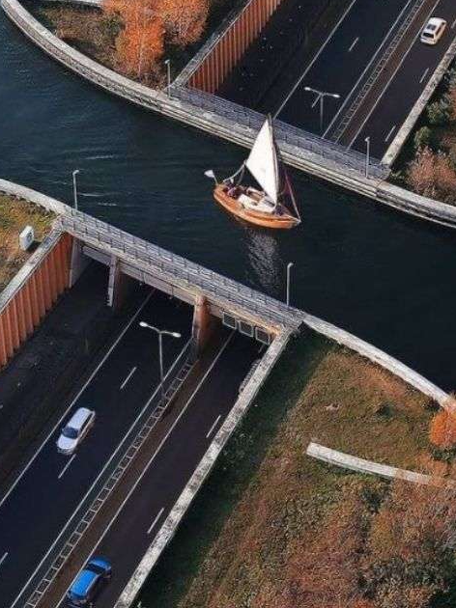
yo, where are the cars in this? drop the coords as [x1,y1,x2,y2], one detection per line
[57,410,94,456]
[421,19,446,46]
[67,558,107,608]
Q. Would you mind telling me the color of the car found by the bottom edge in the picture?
blue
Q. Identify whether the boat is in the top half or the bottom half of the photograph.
top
